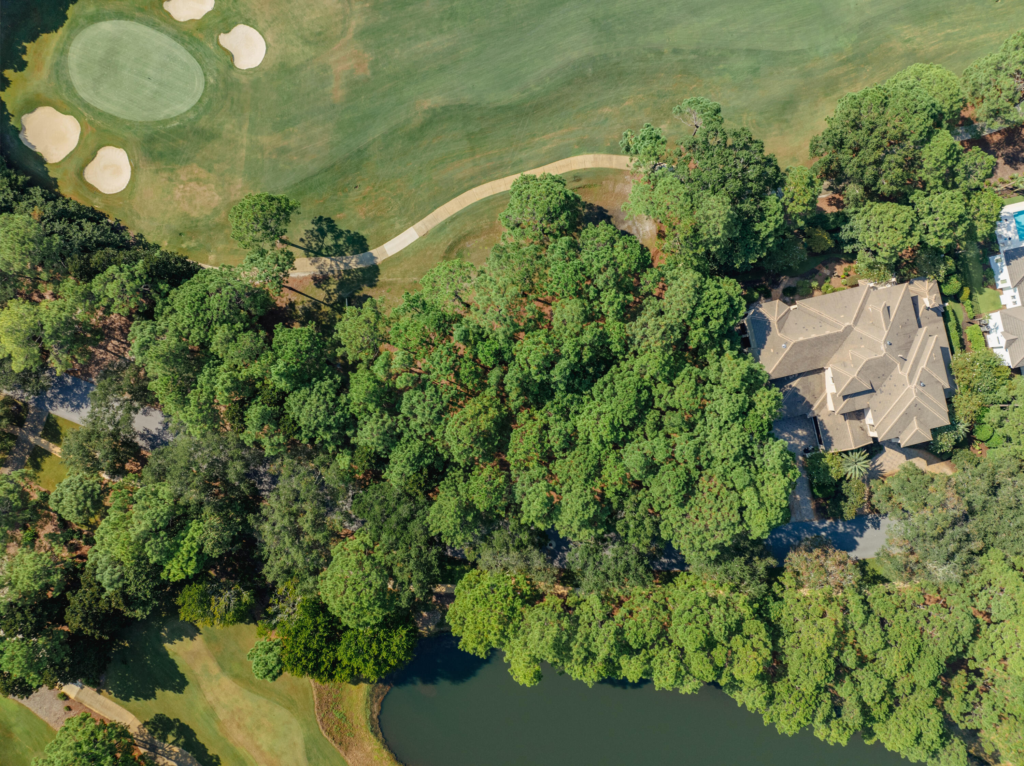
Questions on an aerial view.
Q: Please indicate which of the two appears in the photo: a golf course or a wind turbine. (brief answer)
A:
golf course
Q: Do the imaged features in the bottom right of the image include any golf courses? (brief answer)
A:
No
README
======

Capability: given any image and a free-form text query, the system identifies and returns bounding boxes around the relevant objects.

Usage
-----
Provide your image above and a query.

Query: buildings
[737,277,958,454]
[981,246,1024,368]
